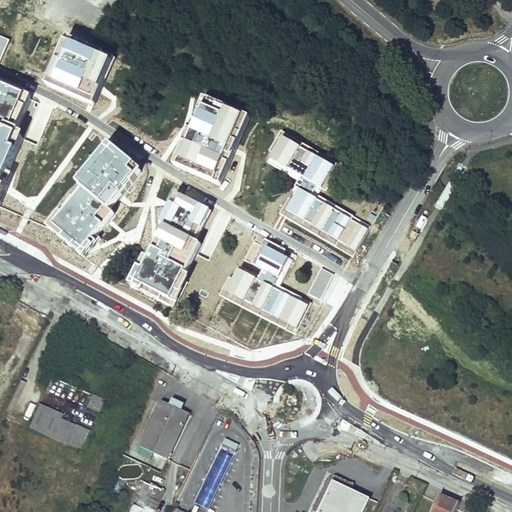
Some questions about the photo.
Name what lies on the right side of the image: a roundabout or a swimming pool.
roundabout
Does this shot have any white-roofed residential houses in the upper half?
Yes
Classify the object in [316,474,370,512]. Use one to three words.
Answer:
building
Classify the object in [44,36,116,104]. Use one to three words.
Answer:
house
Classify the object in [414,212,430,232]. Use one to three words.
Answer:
vehicle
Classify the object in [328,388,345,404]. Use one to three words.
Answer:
vehicle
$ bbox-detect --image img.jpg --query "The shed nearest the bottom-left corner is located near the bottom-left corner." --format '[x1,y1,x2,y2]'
[30,403,90,449]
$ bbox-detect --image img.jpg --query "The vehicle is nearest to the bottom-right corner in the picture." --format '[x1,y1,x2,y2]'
[454,467,474,482]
